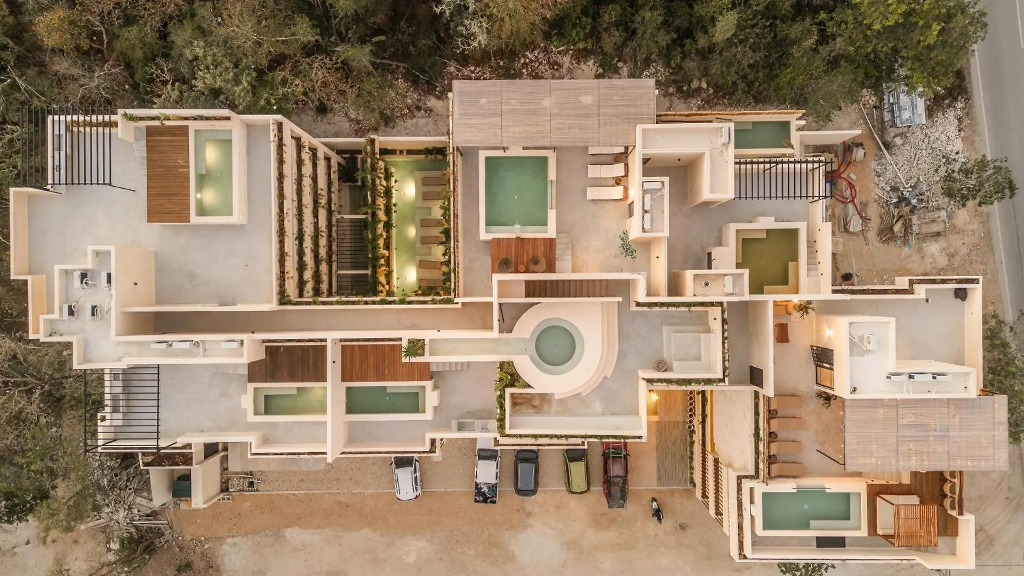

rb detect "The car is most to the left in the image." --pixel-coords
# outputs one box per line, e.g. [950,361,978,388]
[390,456,424,502]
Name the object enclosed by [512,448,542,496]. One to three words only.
car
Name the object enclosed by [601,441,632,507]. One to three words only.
vehicle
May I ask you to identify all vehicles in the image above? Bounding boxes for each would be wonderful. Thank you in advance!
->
[649,496,666,523]
[512,448,542,496]
[562,441,591,493]
[472,437,502,504]
[601,441,632,507]
[390,456,424,502]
